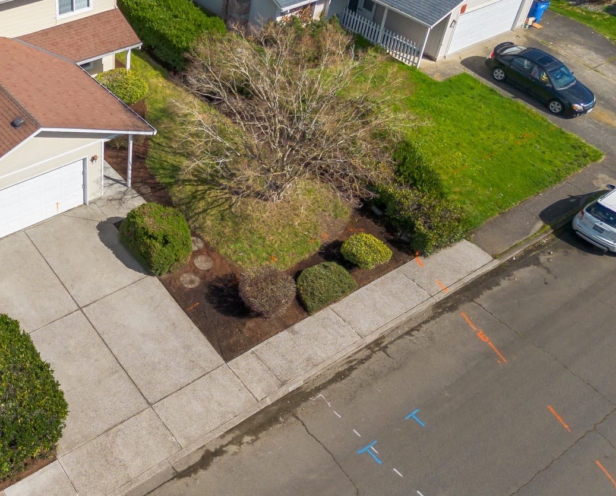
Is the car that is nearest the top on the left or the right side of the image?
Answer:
right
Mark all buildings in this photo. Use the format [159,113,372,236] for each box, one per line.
[0,0,159,239]
[197,0,535,74]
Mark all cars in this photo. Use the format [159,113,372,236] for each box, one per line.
[570,186,616,262]
[491,46,600,116]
